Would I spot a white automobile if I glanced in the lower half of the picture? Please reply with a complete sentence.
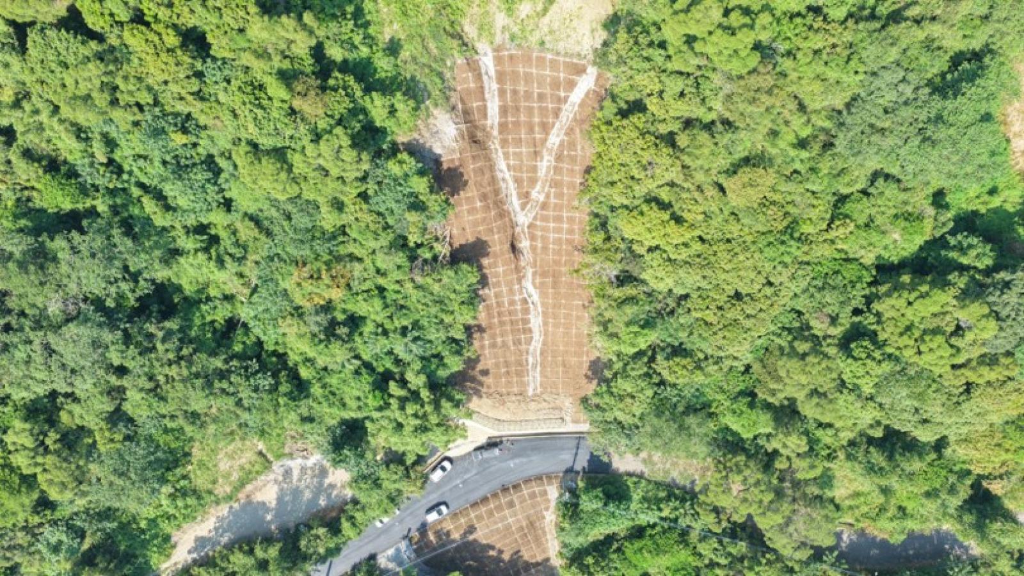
Yes, the scene does show a white automobile in the lower half of the picture.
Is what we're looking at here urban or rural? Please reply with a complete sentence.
The area is rural.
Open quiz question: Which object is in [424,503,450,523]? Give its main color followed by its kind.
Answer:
white car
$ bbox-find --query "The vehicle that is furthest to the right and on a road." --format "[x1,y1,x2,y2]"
[473,443,500,460]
